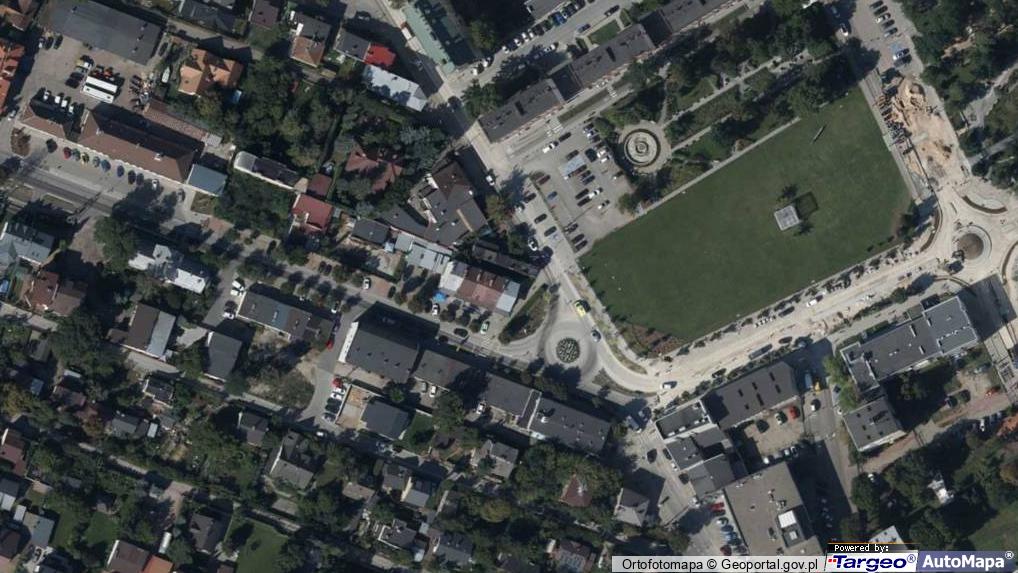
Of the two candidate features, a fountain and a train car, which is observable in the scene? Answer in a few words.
fountain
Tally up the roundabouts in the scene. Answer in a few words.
two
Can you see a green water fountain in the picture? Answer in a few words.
No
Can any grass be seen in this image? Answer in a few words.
Yes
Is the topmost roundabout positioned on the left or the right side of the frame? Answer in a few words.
right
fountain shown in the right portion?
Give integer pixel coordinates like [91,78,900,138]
[623,129,660,166]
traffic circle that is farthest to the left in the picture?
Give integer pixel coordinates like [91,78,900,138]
[537,288,598,380]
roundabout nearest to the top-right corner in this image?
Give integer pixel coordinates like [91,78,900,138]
[937,212,1005,280]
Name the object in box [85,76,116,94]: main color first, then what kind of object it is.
white vehicle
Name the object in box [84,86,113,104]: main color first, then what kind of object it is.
white vehicle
